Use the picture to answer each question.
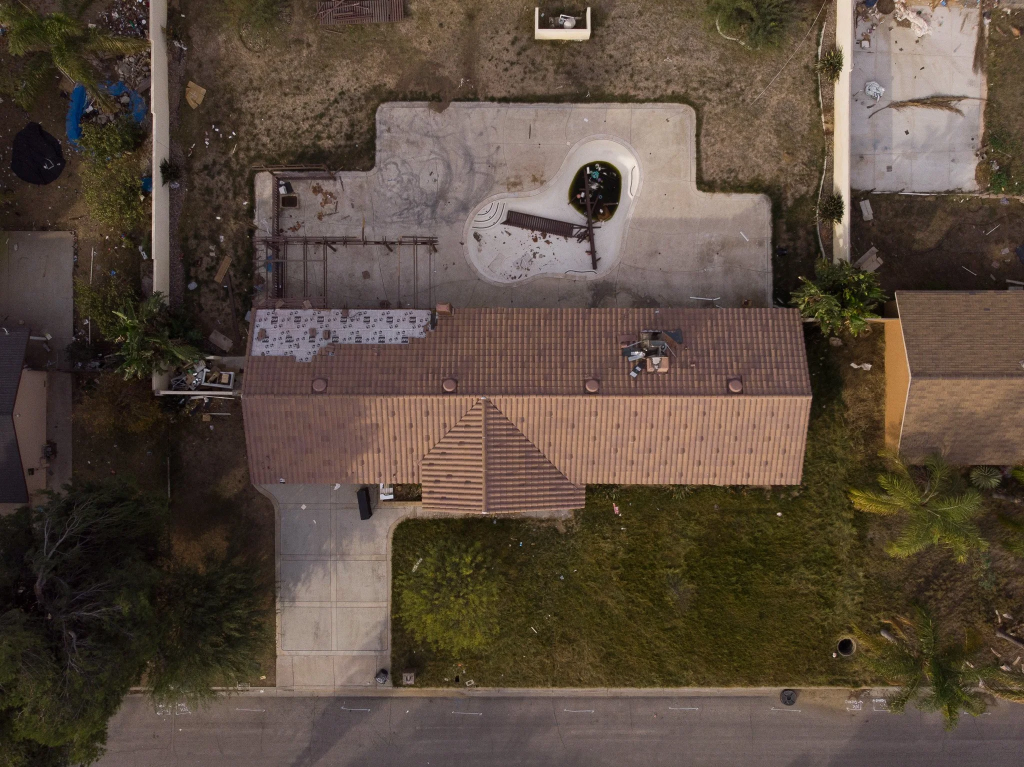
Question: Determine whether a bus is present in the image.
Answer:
No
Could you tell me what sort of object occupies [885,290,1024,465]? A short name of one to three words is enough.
house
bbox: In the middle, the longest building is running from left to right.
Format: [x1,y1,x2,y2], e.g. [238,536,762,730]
[240,303,814,518]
